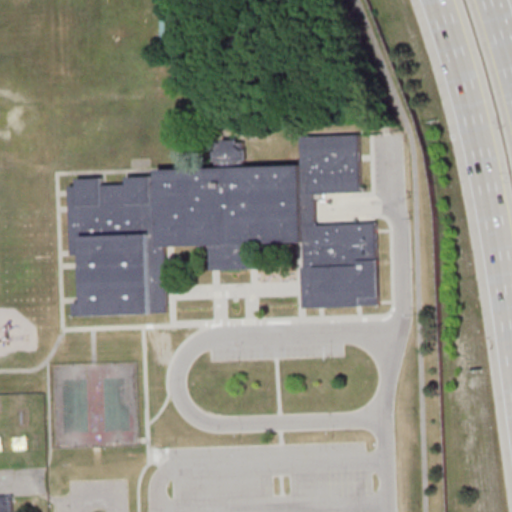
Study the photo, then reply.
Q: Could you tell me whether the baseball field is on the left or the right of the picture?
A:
left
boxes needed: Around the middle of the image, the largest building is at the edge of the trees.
[66,134,380,316]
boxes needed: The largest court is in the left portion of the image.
[54,363,137,448]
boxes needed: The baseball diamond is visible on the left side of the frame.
[0,89,27,140]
